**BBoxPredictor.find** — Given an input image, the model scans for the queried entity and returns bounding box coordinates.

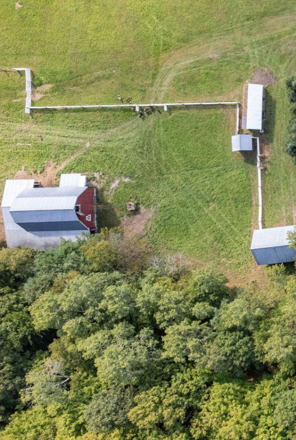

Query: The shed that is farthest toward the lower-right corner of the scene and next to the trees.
[252,224,296,265]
